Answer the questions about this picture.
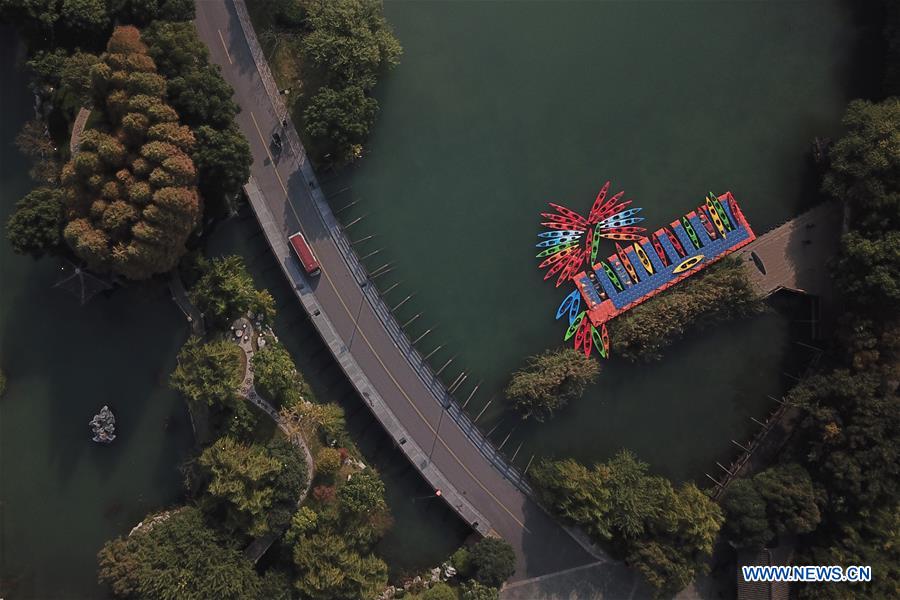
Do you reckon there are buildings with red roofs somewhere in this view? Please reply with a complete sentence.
No, there isn't any building with a red roof down there.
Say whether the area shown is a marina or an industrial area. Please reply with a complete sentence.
What you see here is a marina.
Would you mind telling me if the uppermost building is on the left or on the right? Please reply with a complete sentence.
The uppermost building appears in the left half of the scene.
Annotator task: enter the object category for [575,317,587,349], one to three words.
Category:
boat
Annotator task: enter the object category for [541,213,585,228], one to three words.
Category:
boat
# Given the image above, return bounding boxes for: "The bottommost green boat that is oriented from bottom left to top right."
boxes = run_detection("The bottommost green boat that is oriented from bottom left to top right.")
[564,312,585,340]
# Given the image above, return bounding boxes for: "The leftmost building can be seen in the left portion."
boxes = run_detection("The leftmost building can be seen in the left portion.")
[54,248,113,303]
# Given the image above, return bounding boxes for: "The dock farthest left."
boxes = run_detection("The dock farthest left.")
[571,192,756,325]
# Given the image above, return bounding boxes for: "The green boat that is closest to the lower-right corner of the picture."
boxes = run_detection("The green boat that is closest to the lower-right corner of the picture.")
[591,325,606,358]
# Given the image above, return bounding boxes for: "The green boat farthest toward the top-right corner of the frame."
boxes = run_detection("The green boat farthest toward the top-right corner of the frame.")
[711,192,730,232]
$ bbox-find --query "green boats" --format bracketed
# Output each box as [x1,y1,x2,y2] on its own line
[605,260,622,291]
[564,312,585,340]
[681,218,699,249]
[711,192,730,232]
[592,223,600,265]
[537,242,578,257]
[591,325,606,358]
